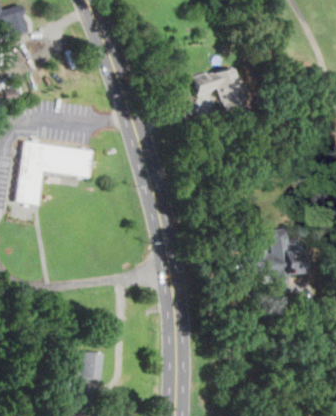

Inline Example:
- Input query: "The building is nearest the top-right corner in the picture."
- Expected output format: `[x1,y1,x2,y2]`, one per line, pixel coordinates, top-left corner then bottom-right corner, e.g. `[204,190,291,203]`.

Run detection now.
[194,66,242,108]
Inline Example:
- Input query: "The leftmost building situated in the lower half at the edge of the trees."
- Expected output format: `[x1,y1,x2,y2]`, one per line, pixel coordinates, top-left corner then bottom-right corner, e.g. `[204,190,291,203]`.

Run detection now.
[82,352,105,380]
